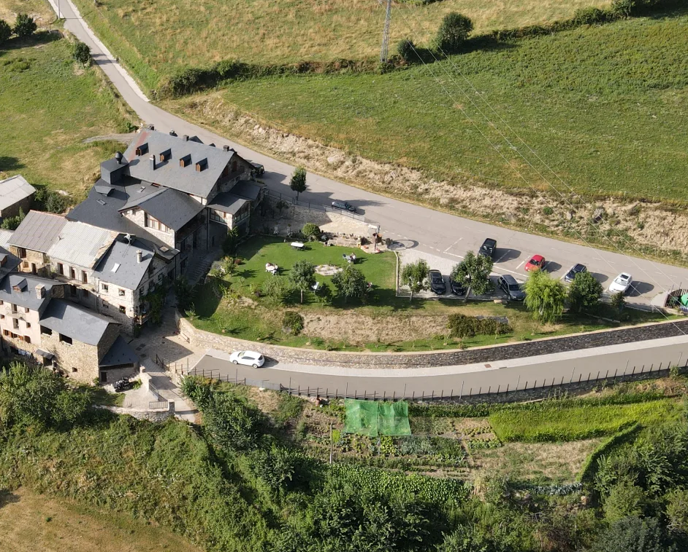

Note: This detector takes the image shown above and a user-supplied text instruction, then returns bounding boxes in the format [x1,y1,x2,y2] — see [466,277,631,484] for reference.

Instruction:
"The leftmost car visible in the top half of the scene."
[245,154,267,176]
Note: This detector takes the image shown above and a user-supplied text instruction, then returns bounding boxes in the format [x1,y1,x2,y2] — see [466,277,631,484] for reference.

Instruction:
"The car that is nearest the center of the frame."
[330,195,361,213]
